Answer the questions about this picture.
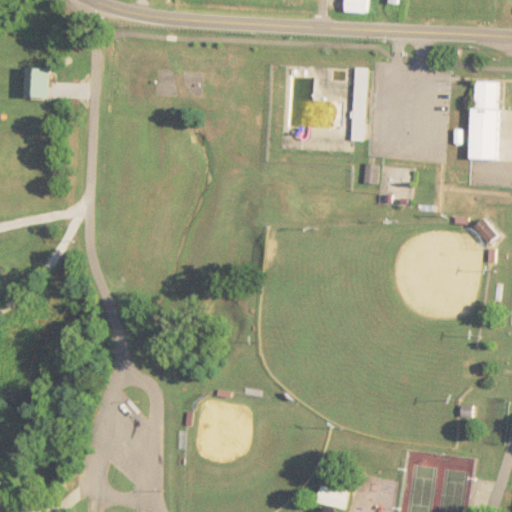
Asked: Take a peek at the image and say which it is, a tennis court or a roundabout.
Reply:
tennis court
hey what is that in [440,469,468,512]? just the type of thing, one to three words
tennis court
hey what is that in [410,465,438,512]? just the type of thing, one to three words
tennis court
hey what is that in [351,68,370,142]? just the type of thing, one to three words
building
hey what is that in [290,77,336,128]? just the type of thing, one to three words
swimming pool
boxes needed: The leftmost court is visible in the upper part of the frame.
[157,70,177,96]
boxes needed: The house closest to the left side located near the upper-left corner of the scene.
[24,68,50,100]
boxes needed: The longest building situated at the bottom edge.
[316,491,352,510]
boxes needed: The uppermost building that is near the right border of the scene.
[474,80,502,108]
